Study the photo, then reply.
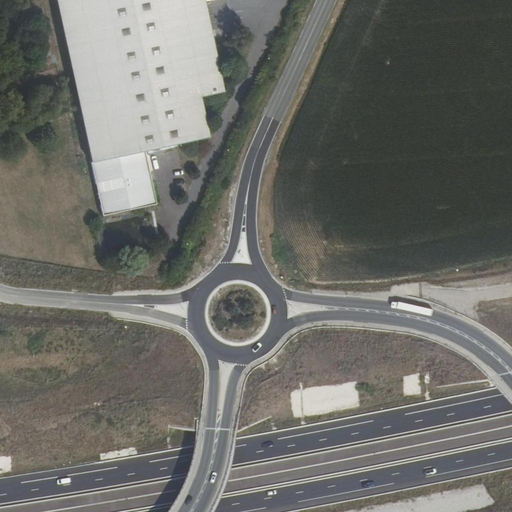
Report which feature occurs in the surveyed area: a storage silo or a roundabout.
roundabout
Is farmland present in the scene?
Yes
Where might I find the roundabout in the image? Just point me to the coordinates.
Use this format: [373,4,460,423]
[153,230,325,410]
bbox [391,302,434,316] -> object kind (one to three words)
vehicle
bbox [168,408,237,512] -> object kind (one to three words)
overpass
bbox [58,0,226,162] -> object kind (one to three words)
warehouse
